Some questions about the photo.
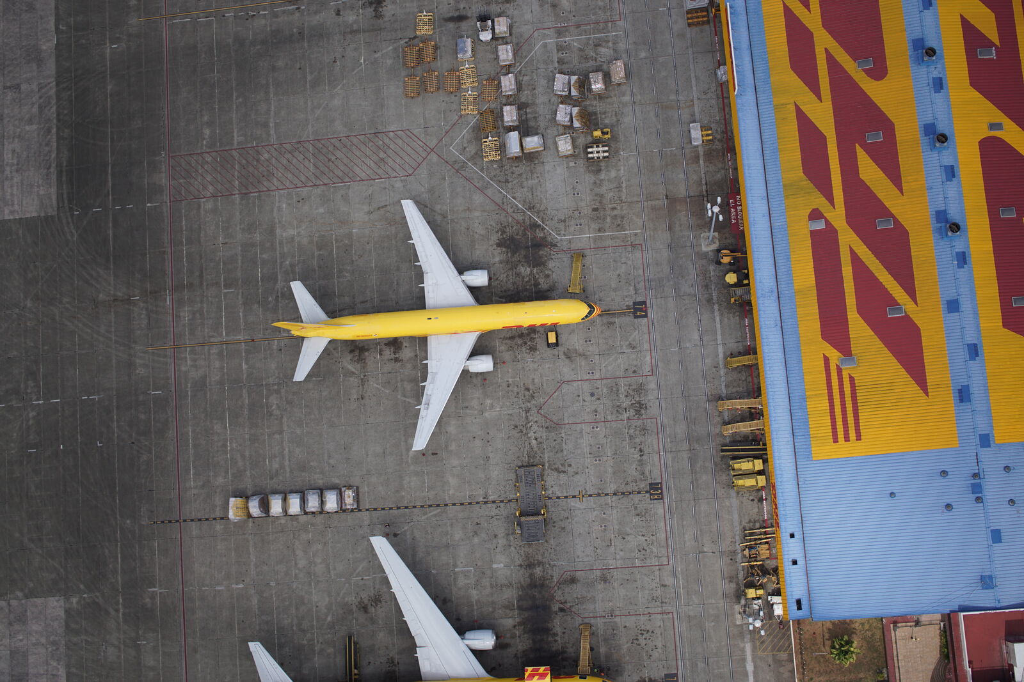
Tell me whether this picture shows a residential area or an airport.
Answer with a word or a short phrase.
airport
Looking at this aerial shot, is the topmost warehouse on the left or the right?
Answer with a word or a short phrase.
right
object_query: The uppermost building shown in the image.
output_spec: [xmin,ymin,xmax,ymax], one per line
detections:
[721,0,1024,620]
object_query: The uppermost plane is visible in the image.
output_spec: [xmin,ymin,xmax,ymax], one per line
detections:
[272,199,601,450]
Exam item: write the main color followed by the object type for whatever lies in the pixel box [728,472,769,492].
yellow vehicle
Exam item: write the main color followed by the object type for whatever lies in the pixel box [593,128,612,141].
yellow vehicle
